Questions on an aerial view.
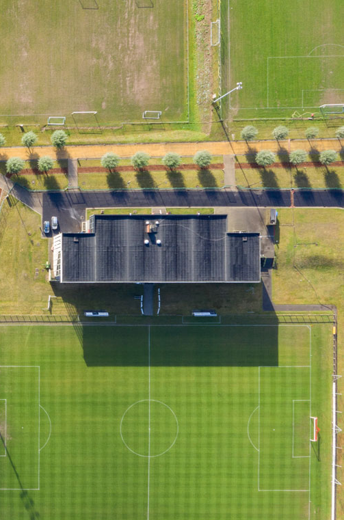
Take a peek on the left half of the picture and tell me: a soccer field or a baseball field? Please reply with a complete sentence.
You can see a soccer field on the left half of the picture.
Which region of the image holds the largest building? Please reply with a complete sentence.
The largest building is located in the center region of the scene.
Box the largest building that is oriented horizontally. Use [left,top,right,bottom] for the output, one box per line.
[52,215,261,285]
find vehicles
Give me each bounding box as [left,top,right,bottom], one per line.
[43,220,50,233]
[51,216,58,231]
